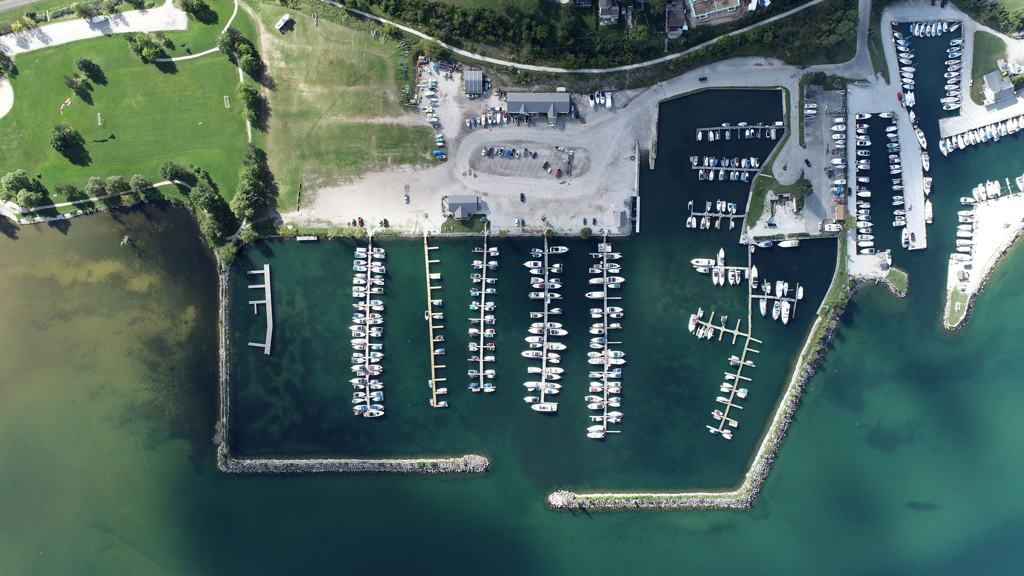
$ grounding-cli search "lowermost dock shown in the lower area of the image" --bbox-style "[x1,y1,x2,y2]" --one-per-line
[706,337,763,436]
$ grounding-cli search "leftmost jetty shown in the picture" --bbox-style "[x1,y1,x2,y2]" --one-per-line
[246,265,273,354]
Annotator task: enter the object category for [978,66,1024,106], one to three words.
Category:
house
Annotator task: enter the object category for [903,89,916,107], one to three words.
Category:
boat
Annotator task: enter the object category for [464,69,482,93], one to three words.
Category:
shed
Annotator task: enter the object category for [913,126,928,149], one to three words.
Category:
boat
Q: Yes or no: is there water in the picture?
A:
Yes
